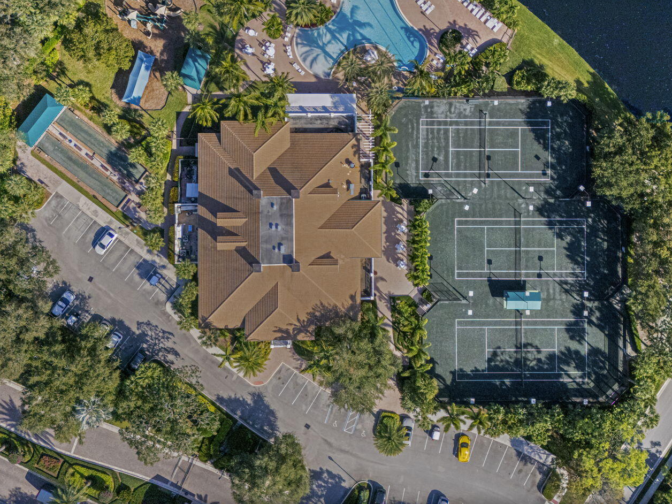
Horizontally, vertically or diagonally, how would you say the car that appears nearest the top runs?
diagonally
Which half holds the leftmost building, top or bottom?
top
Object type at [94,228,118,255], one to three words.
car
